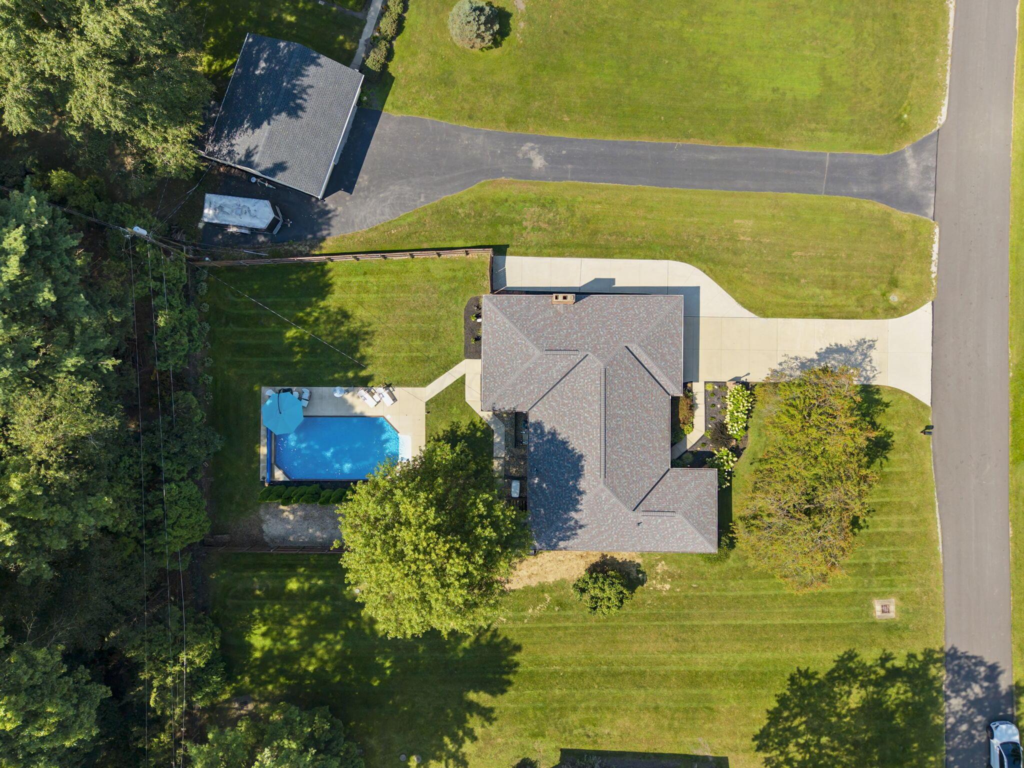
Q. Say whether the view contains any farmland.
No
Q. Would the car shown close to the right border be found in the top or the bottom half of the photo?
bottom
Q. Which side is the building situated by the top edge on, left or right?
left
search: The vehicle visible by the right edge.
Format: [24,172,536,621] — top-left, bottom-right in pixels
[985,721,1023,768]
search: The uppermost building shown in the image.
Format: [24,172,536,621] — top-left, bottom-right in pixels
[204,33,366,199]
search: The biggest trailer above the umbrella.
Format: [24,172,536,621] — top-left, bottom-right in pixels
[202,193,299,235]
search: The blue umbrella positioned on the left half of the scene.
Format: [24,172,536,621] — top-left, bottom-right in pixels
[262,386,304,434]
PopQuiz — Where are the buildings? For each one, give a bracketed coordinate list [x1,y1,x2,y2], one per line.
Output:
[204,33,366,199]
[480,293,719,555]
